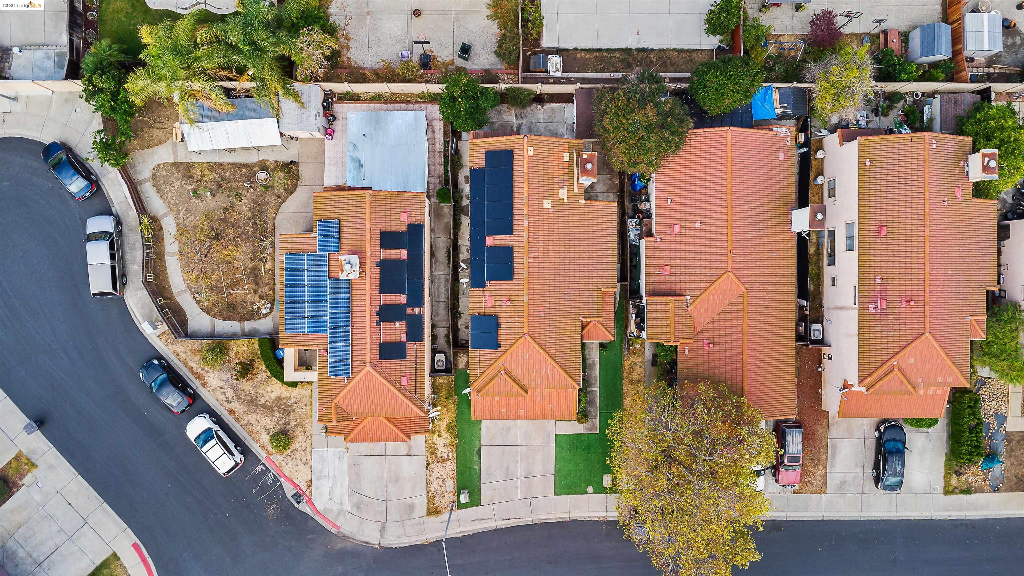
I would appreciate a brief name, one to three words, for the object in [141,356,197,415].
car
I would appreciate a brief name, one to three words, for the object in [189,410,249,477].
car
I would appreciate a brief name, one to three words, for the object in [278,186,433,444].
house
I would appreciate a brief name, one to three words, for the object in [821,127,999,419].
house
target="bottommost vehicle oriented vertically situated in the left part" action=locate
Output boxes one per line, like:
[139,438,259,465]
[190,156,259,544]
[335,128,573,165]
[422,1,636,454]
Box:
[86,215,129,298]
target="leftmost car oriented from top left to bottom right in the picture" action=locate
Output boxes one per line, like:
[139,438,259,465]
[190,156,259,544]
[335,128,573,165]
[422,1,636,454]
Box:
[46,140,102,206]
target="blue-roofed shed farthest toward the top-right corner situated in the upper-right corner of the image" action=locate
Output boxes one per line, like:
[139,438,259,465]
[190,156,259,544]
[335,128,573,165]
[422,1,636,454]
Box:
[903,21,953,66]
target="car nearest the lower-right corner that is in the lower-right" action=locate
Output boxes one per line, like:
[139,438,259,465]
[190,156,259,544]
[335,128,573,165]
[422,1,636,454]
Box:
[871,418,911,492]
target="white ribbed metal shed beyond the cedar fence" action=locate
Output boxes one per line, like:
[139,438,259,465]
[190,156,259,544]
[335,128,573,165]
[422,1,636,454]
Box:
[948,13,1003,60]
